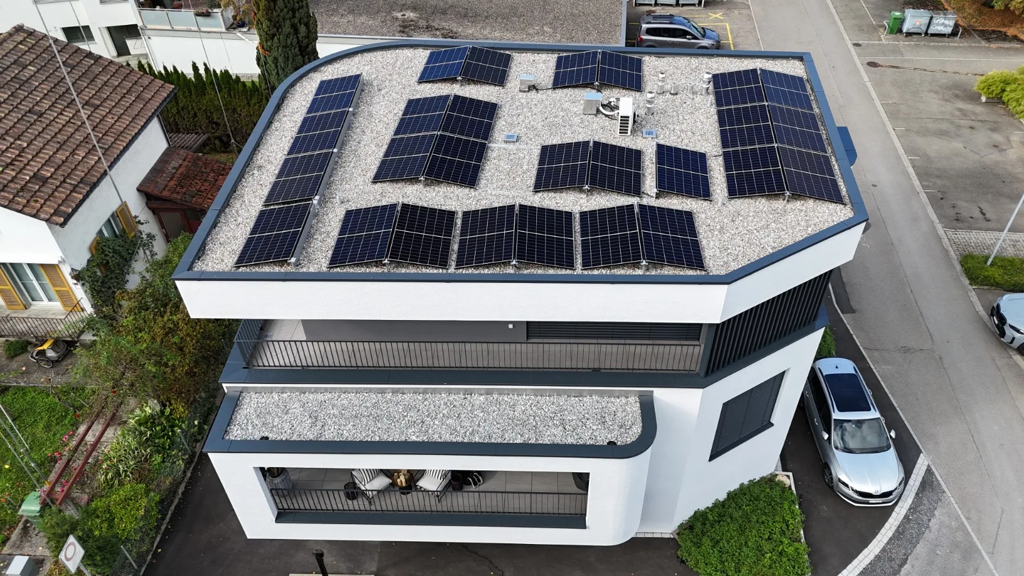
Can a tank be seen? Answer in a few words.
No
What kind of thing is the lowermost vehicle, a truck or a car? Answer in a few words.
car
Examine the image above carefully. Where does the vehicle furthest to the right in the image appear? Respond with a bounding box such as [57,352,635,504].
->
[985,292,1024,351]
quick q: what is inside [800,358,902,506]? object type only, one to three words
car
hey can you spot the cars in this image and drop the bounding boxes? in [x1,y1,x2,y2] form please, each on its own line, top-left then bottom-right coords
[634,13,720,51]
[985,292,1024,351]
[800,358,902,506]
